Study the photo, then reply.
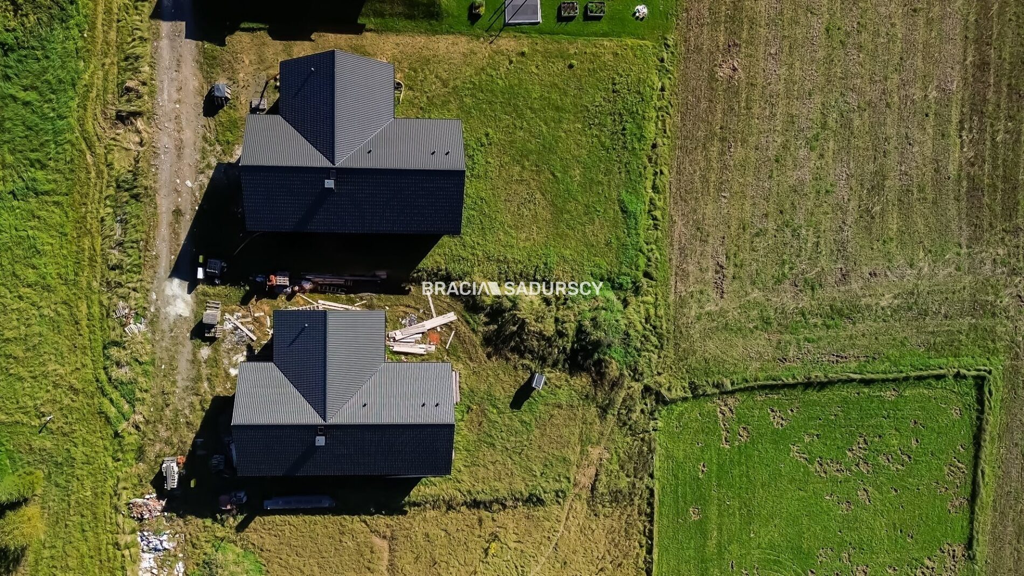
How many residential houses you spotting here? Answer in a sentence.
Looking from above, you can make out 2 residential houses.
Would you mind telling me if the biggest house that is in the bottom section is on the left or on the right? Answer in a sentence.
You can find the biggest house that is in the bottom section on the left side of the picture.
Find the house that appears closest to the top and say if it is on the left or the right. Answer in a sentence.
The house that appears closest to the top appears in the left half of the scene.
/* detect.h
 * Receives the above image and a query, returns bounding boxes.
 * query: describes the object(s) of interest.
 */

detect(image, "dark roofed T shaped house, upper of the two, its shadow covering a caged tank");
[239,49,466,236]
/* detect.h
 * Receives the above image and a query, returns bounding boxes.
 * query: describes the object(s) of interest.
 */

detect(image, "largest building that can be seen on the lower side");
[230,310,455,477]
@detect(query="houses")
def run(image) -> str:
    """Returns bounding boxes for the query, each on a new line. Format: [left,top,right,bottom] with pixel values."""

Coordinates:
[239,49,466,236]
[230,310,455,477]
